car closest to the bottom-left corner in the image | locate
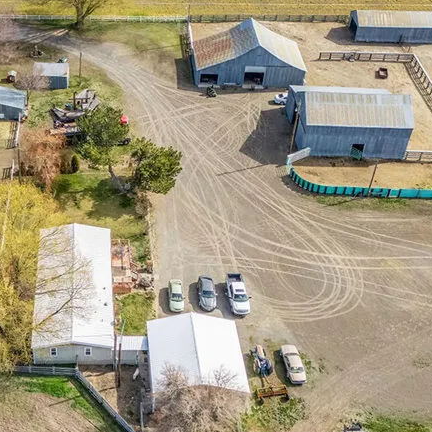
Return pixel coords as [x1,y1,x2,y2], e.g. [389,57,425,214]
[168,280,186,312]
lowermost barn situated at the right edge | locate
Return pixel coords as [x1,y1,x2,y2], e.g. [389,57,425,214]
[282,86,413,160]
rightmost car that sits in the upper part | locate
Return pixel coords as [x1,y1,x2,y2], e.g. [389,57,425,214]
[267,92,285,105]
